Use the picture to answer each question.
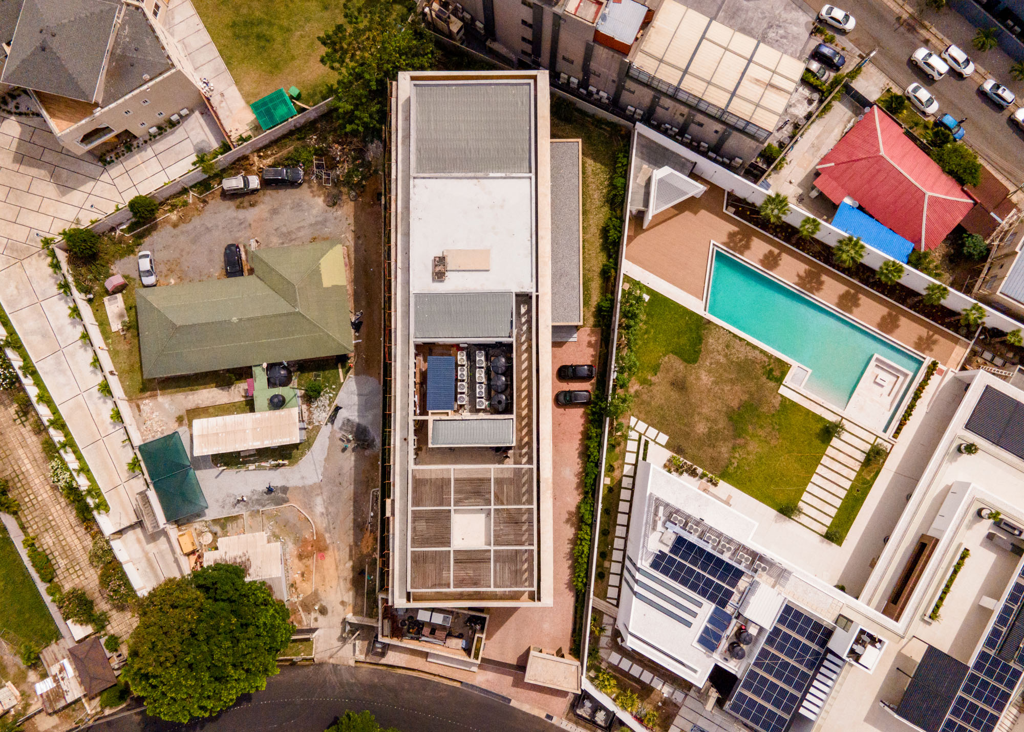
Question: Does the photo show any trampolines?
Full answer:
No, no trampoline is visible in the scene.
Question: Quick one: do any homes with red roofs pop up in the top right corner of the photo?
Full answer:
Yes, a home with a red roof can be seen in the top right corner of the photo.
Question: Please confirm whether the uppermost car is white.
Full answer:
Yes, white is the color of the uppermost car.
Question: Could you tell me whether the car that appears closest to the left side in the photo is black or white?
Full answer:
The car that appears closest to the left side looks white in the image.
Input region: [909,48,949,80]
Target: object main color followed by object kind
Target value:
white car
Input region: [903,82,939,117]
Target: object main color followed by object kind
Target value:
white car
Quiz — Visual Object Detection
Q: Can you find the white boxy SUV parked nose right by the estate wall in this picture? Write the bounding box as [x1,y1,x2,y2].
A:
[220,173,261,195]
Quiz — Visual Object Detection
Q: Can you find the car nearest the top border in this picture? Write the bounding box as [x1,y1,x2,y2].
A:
[817,5,856,34]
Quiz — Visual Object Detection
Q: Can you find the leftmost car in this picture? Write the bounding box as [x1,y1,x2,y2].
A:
[138,249,159,288]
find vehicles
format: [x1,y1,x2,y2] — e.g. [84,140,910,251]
[802,56,834,83]
[808,41,848,71]
[817,5,856,34]
[978,78,1018,110]
[225,242,245,277]
[940,45,973,77]
[903,82,939,117]
[220,173,261,195]
[554,388,593,407]
[138,249,159,288]
[933,111,967,142]
[909,48,949,80]
[259,165,304,186]
[557,362,596,381]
